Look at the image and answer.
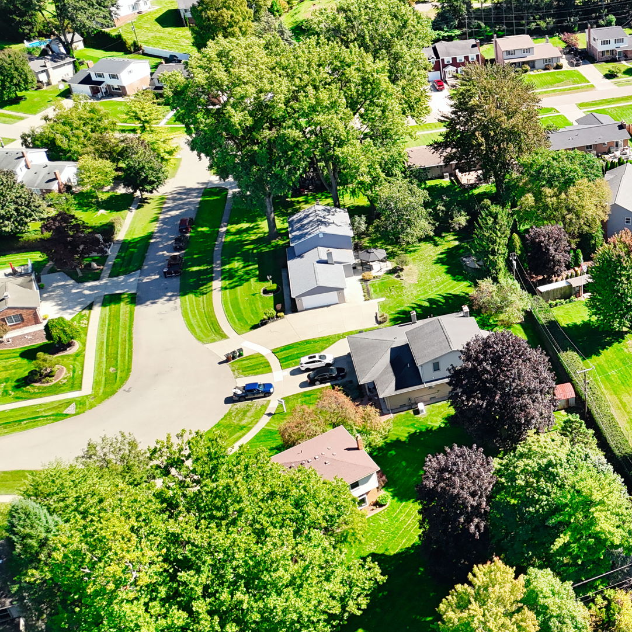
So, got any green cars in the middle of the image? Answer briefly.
No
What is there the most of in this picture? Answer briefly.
trees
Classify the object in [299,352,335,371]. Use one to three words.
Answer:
car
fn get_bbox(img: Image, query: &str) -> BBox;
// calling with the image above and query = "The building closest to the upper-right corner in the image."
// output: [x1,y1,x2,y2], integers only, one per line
[577,23,632,64]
